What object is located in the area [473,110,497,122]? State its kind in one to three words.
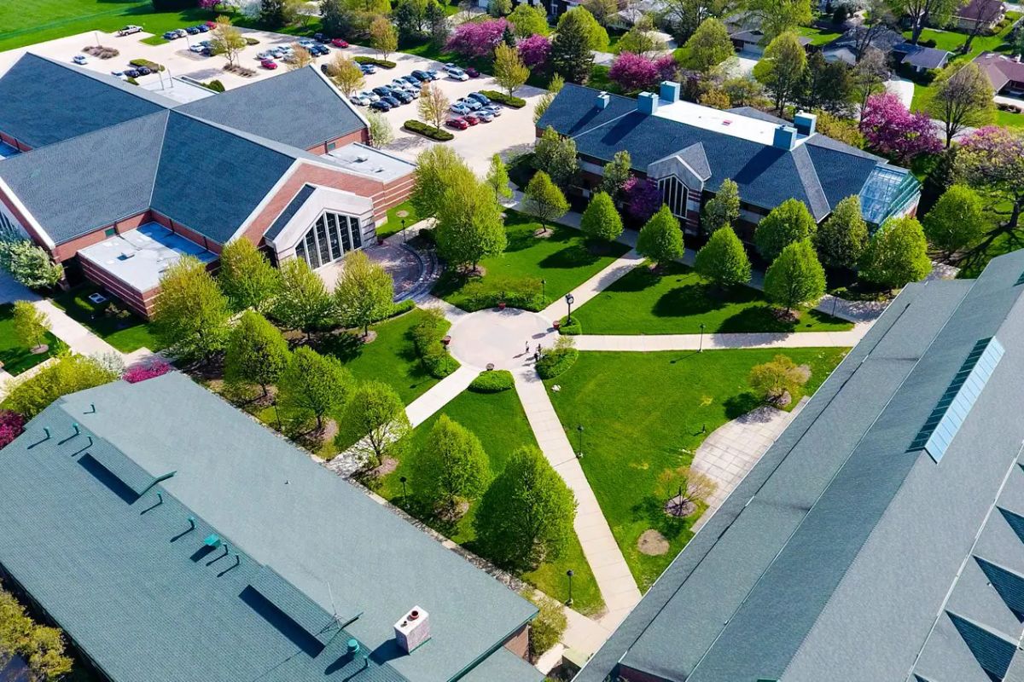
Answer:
vehicle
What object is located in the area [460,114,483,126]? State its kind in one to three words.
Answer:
vehicle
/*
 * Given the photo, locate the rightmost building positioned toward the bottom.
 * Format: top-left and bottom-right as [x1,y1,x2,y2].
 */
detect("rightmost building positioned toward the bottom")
[568,257,1024,682]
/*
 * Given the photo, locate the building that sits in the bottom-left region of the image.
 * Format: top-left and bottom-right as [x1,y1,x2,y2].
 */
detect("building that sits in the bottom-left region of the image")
[0,368,546,682]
